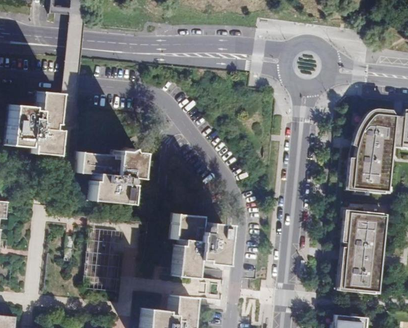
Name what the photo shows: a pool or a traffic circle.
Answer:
traffic circle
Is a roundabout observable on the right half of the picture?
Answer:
Yes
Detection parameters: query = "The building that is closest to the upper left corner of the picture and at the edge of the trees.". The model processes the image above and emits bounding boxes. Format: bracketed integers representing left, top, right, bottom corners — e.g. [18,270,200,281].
[4,91,67,157]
